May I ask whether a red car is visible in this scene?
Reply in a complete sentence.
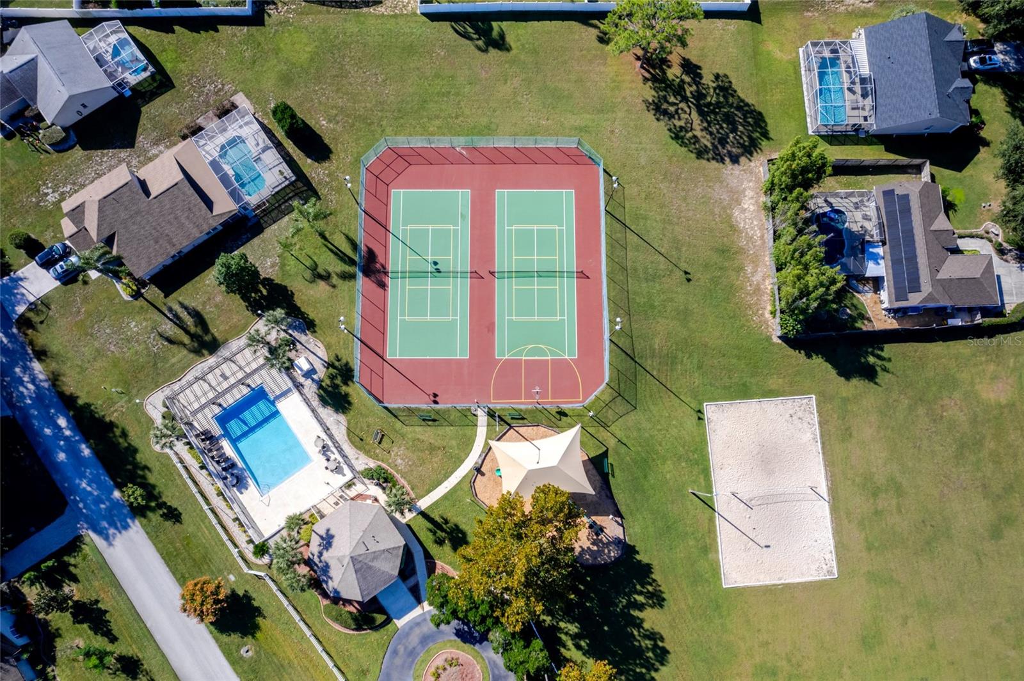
No, no red car is visible in the view.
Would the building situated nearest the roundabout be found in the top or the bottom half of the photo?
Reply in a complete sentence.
The building situated nearest the roundabout sits in the bottom half of the picture.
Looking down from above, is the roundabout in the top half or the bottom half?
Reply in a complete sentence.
It is in the bottom half that the roundabout appears.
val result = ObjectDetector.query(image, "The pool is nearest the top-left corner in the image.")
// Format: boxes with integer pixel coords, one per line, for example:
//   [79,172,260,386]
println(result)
[110,35,150,77]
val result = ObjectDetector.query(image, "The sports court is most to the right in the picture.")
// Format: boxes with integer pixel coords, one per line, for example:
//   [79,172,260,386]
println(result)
[704,396,838,587]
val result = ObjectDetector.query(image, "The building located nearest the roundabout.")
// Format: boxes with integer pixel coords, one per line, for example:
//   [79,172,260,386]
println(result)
[308,500,406,602]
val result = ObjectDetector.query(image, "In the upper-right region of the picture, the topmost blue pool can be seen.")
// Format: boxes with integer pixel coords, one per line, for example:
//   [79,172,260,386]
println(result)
[816,54,849,126]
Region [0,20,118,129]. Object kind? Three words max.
house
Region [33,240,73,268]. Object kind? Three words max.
car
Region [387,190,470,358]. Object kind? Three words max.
tennis court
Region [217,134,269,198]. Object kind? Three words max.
swimming pool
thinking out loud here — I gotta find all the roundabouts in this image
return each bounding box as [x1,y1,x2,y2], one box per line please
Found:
[377,608,523,681]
